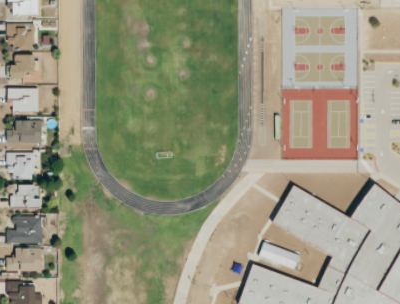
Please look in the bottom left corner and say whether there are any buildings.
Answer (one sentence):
Yes, you'll find a building in the bottom left corner.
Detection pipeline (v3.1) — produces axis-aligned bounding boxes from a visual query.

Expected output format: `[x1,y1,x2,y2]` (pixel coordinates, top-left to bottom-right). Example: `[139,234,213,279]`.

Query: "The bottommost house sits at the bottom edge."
[6,280,42,304]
